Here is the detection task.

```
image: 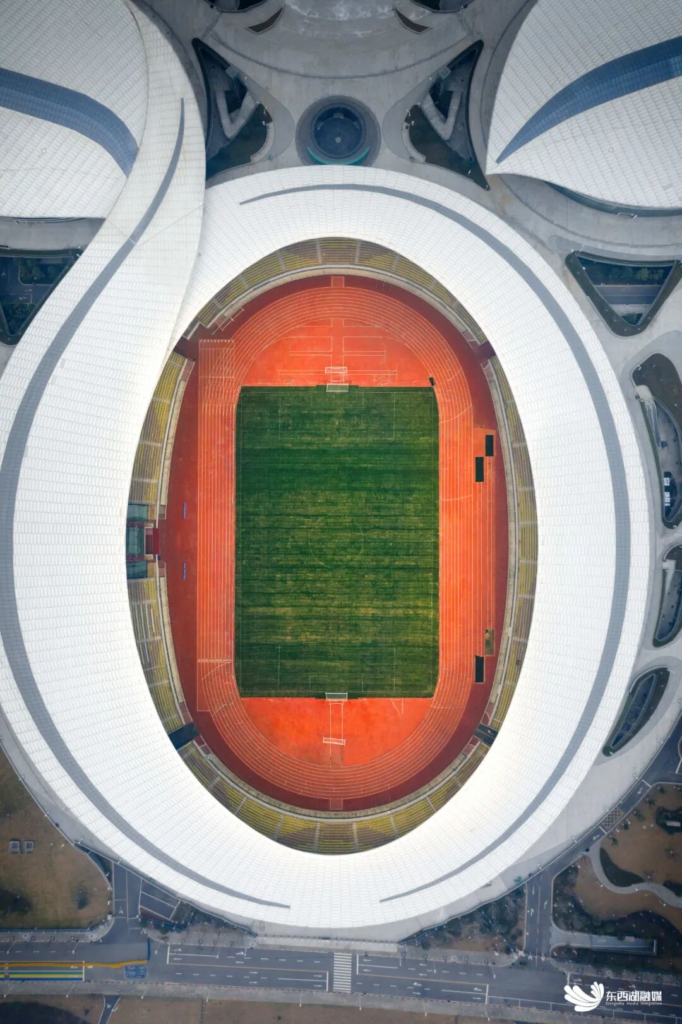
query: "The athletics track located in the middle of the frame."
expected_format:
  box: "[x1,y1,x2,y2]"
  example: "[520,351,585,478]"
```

[128,267,517,817]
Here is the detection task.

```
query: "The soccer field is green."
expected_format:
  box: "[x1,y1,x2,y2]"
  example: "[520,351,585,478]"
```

[236,384,439,699]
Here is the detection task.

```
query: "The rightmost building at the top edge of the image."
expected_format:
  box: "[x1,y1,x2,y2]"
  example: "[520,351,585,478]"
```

[486,0,682,217]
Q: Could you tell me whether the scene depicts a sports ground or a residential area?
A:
sports ground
